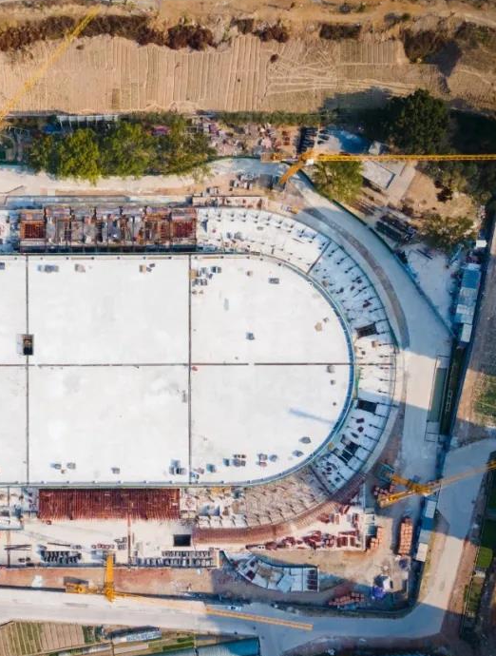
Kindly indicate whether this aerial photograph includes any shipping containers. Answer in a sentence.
No, the photo shows no shipping container.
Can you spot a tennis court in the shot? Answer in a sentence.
No, this view has no tennis court in it.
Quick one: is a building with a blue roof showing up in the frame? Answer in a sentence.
Yes, I can see a building with a blue roof in this picture.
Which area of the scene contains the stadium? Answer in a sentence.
Look in the center portion of the view to spot the stadium.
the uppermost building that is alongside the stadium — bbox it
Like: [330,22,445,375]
[236,554,318,592]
